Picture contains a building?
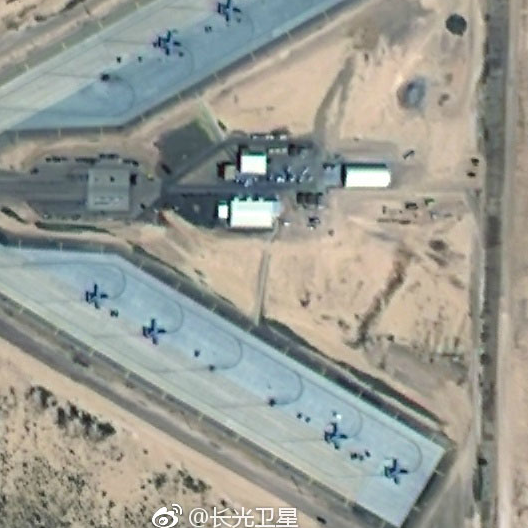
Yes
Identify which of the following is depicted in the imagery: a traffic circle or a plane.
plane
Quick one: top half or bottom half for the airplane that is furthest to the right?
bottom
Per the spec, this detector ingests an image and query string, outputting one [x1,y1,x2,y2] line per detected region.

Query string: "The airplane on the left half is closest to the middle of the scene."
[142,319,166,344]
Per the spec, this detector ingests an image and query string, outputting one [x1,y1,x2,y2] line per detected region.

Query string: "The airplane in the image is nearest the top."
[217,0,241,21]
